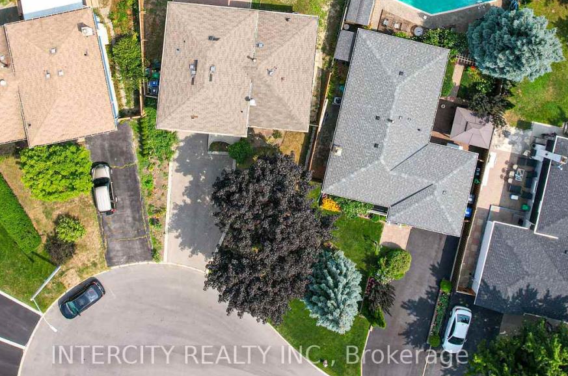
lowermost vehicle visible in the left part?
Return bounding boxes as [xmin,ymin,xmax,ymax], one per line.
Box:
[61,280,109,318]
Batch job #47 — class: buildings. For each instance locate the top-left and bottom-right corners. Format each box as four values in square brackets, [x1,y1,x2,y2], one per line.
[155,0,319,138]
[470,135,568,323]
[0,6,123,148]
[323,27,480,238]
[343,0,373,24]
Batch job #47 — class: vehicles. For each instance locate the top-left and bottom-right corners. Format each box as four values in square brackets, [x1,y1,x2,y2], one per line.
[441,306,469,353]
[61,280,109,318]
[89,161,120,215]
